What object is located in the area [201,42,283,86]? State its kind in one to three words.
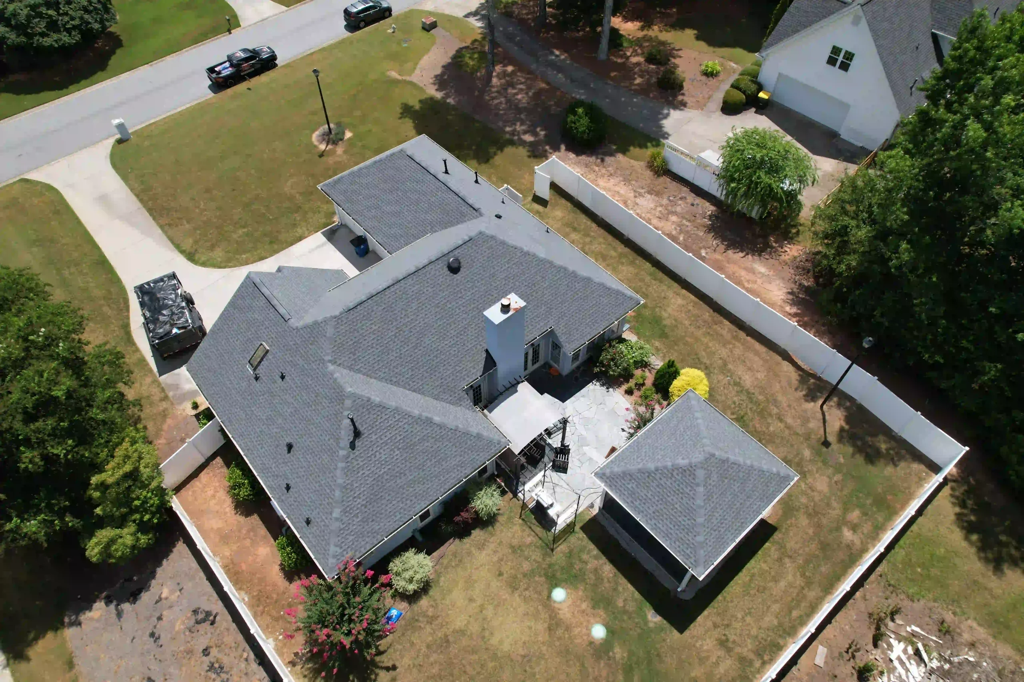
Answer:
truck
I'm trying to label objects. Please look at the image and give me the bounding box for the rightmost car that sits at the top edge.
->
[339,0,394,28]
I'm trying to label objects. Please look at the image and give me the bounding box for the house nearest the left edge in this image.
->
[183,133,646,583]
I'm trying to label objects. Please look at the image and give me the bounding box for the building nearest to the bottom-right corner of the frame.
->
[588,387,803,599]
